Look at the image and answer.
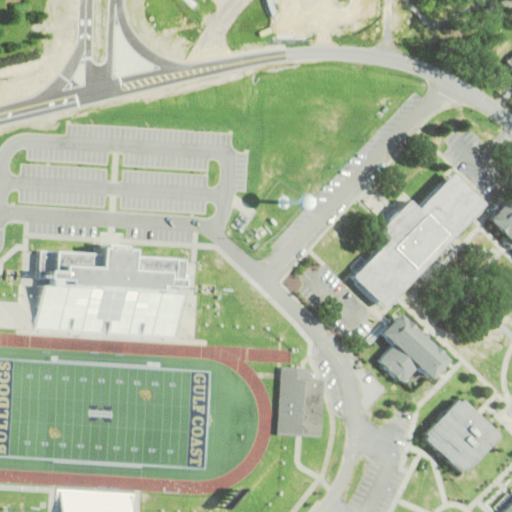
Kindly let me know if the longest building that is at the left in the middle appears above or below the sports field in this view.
above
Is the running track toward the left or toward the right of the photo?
left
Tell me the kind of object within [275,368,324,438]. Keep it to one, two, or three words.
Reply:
building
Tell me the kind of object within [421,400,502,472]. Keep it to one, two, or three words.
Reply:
building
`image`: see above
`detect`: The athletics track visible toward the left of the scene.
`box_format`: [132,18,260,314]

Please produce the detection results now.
[0,332,292,494]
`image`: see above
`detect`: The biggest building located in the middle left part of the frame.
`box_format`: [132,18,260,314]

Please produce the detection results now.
[35,245,192,292]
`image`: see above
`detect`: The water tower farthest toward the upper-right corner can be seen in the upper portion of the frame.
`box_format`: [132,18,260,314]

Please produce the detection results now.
[277,193,318,210]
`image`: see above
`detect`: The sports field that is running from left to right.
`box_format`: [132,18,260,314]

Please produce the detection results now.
[0,347,256,480]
